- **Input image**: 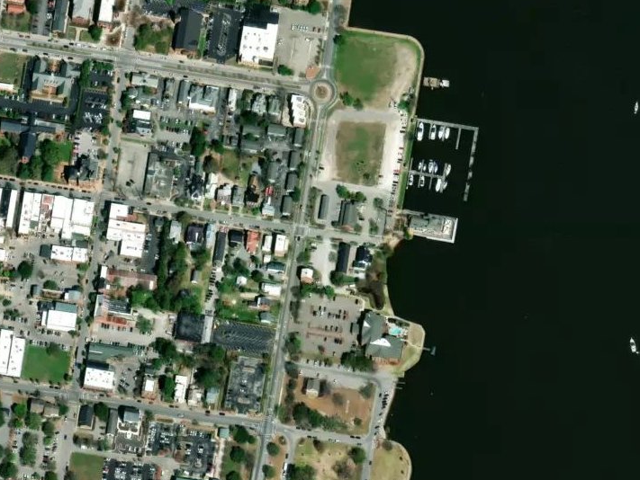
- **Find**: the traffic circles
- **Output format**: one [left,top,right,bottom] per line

[307,77,335,104]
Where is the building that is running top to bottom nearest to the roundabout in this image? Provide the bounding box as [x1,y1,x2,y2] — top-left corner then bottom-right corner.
[289,93,307,128]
